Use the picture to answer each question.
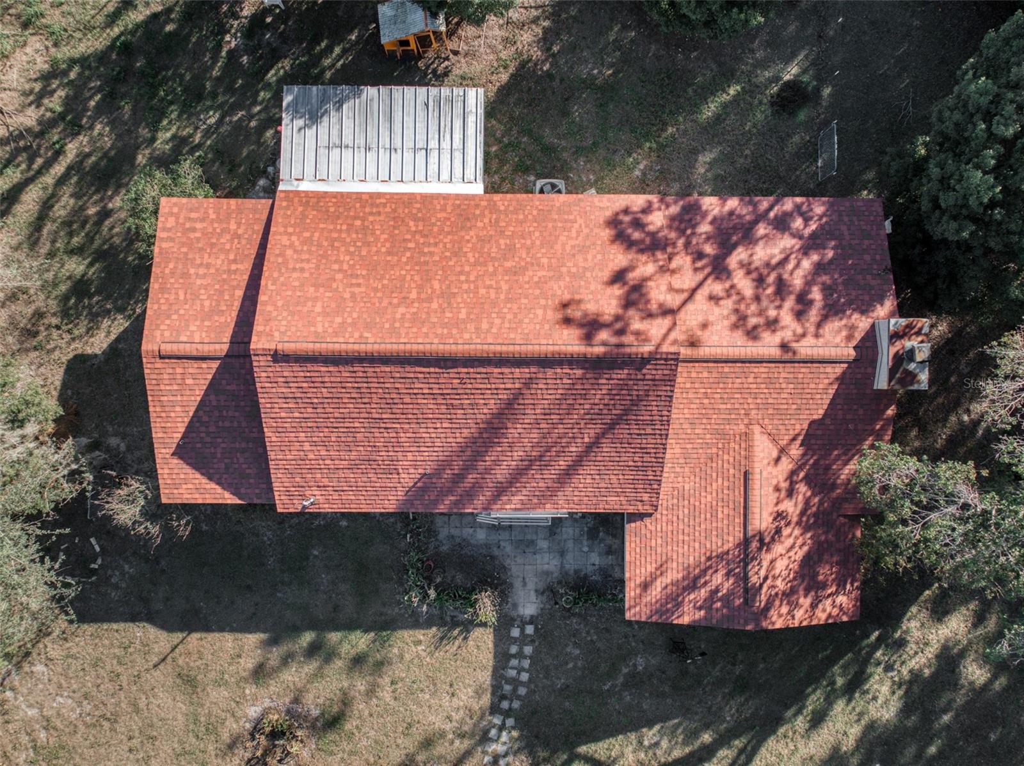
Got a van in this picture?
No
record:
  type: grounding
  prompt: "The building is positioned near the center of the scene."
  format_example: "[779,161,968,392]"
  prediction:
[142,85,929,630]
